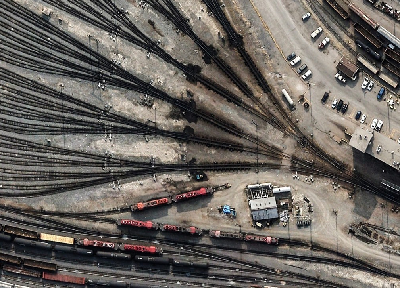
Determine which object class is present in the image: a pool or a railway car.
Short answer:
railway car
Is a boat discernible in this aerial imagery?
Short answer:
Yes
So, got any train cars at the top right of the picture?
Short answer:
Yes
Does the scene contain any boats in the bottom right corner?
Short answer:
No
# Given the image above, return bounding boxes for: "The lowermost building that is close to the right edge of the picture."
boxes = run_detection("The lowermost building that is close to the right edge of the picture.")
[338,116,400,177]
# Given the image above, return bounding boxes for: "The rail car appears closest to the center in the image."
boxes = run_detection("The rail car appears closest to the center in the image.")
[173,186,215,202]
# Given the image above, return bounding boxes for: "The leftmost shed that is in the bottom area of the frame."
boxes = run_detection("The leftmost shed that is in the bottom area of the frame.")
[251,197,279,221]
